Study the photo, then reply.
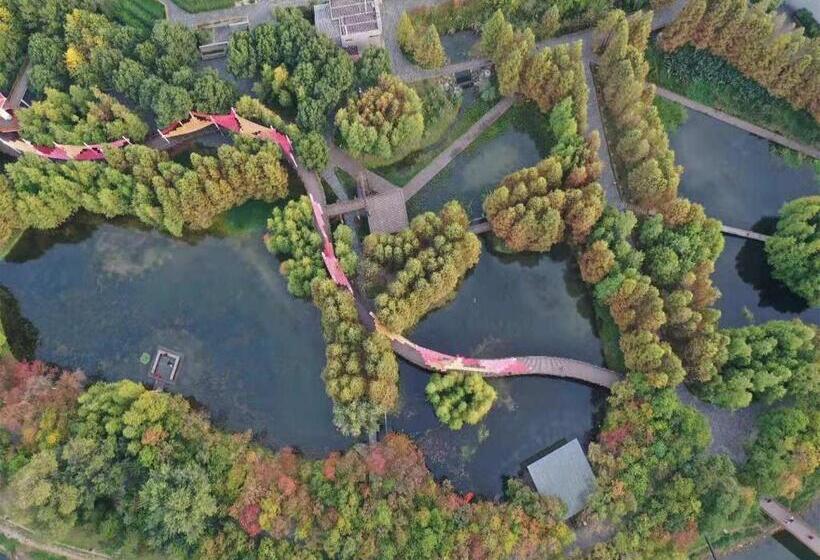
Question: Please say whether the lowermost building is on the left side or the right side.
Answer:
right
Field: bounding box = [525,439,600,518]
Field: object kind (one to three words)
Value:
building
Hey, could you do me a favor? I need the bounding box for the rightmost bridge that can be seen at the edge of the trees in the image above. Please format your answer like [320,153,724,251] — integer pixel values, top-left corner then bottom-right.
[746,491,820,558]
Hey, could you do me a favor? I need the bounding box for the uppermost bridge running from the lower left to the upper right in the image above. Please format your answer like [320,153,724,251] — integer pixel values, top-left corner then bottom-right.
[401,103,513,197]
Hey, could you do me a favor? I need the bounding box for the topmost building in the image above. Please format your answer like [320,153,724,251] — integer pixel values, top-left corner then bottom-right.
[330,0,384,61]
